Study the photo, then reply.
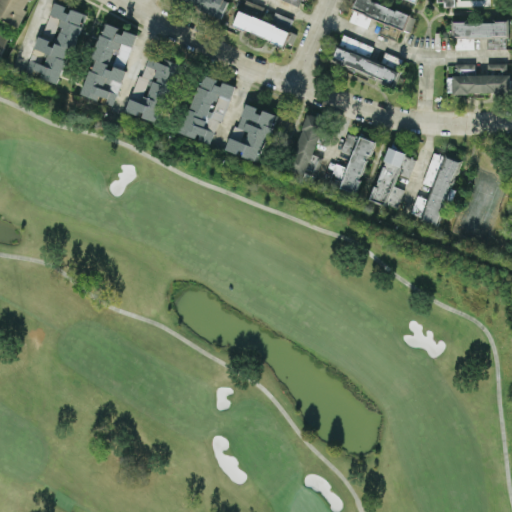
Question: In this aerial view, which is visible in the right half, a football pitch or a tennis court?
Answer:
tennis court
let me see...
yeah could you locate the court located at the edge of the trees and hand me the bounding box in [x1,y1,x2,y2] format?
[460,168,504,234]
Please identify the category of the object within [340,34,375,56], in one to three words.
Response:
building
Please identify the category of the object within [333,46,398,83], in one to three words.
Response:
house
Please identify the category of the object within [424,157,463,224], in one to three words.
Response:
house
